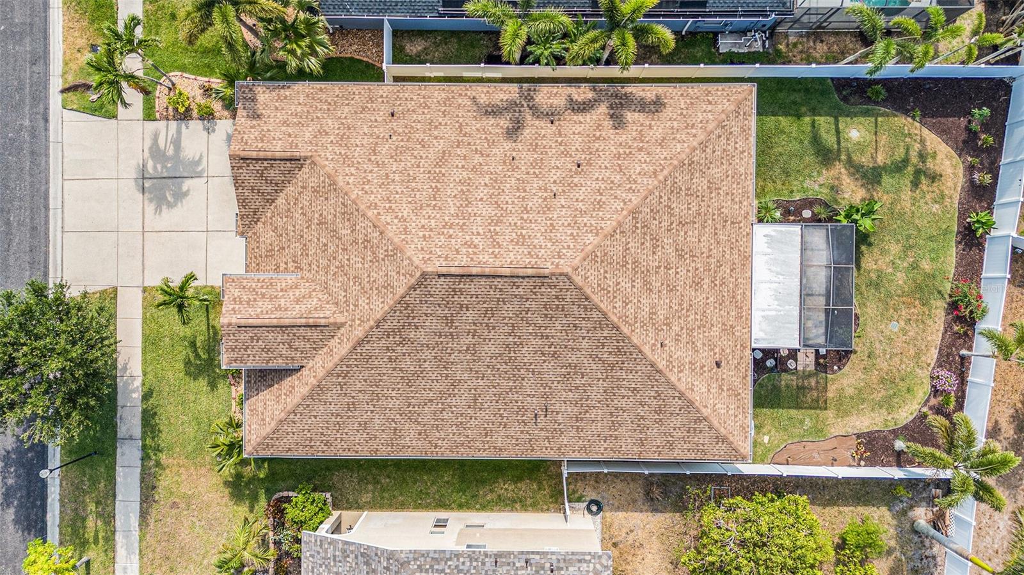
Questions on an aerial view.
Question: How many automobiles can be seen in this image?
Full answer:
I count no automobiles.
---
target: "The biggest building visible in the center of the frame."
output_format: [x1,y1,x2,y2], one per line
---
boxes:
[218,80,758,461]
